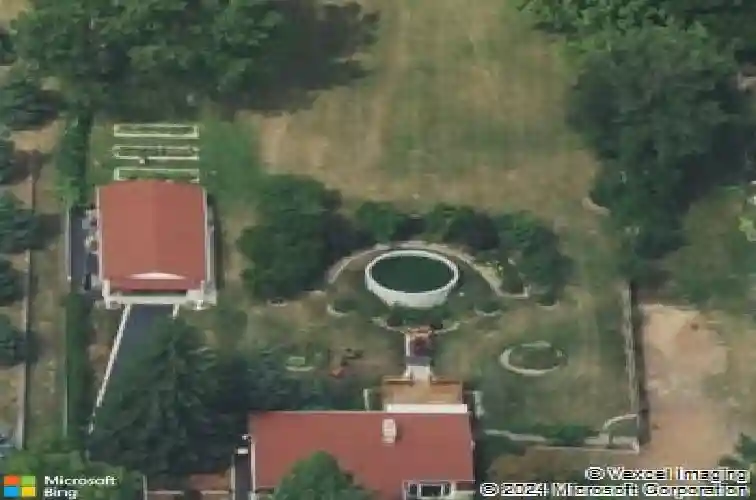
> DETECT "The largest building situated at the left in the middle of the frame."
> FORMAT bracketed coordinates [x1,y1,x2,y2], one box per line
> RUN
[102,179,210,312]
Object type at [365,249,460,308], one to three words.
swimming pool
